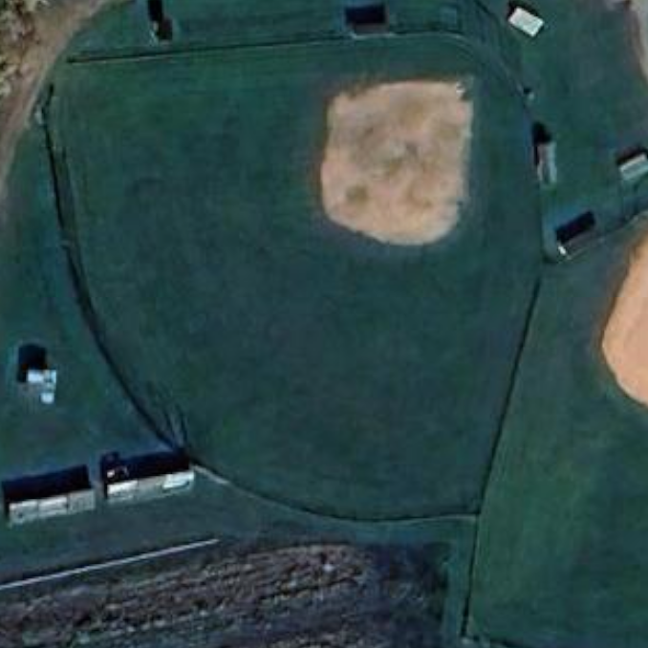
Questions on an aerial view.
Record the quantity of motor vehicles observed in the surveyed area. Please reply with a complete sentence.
I count no motor vehicles.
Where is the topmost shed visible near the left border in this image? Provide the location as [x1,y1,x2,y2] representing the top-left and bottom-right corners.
[23,369,58,389]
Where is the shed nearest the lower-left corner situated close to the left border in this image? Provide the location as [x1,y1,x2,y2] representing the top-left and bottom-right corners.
[4,486,96,530]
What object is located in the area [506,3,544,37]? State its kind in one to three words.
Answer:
shed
